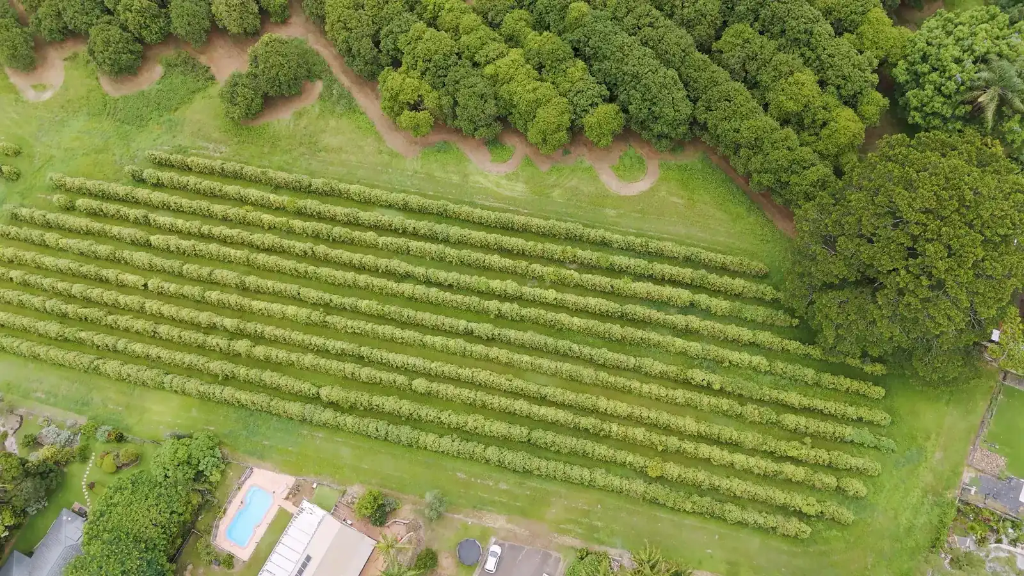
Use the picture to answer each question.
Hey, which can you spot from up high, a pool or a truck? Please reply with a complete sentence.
There is a pool in the scene.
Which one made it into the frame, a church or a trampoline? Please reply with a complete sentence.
This aerial view contains a trampoline.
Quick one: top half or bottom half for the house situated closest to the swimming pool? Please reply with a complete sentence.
The house situated closest to the swimming pool is in the bottom half of the image.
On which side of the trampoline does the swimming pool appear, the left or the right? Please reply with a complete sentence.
The swimming pool is to the left of the trampoline.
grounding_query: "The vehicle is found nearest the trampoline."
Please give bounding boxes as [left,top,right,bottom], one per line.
[484,543,502,575]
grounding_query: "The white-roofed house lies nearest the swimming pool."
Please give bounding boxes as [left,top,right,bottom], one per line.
[256,500,378,576]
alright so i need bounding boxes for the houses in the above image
[256,500,378,576]
[0,508,92,576]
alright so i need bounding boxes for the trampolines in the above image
[457,539,482,565]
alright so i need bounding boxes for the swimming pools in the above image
[216,468,298,561]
